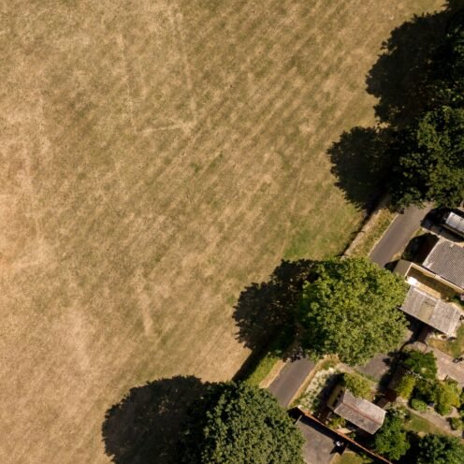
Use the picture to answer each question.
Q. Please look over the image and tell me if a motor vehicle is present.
No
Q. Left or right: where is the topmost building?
right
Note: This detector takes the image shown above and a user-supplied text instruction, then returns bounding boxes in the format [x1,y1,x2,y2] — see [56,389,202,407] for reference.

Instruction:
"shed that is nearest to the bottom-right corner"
[327,382,387,434]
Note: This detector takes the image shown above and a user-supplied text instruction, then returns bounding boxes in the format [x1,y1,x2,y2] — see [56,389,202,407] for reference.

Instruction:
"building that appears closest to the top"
[433,213,464,242]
